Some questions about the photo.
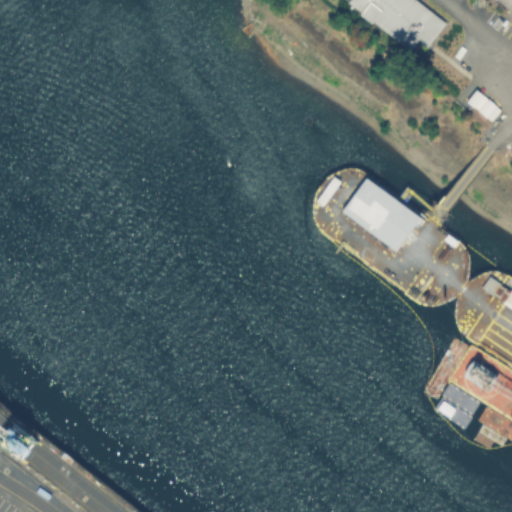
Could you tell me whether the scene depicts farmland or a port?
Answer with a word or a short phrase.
port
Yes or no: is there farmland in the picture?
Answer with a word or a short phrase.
No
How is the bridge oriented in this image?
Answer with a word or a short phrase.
on a diagonal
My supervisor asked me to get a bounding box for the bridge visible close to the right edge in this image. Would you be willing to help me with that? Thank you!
[441,144,497,209]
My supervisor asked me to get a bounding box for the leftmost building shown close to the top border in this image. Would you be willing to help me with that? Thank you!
[352,0,448,57]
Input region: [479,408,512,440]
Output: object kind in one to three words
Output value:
ship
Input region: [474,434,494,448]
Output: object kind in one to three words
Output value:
ship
